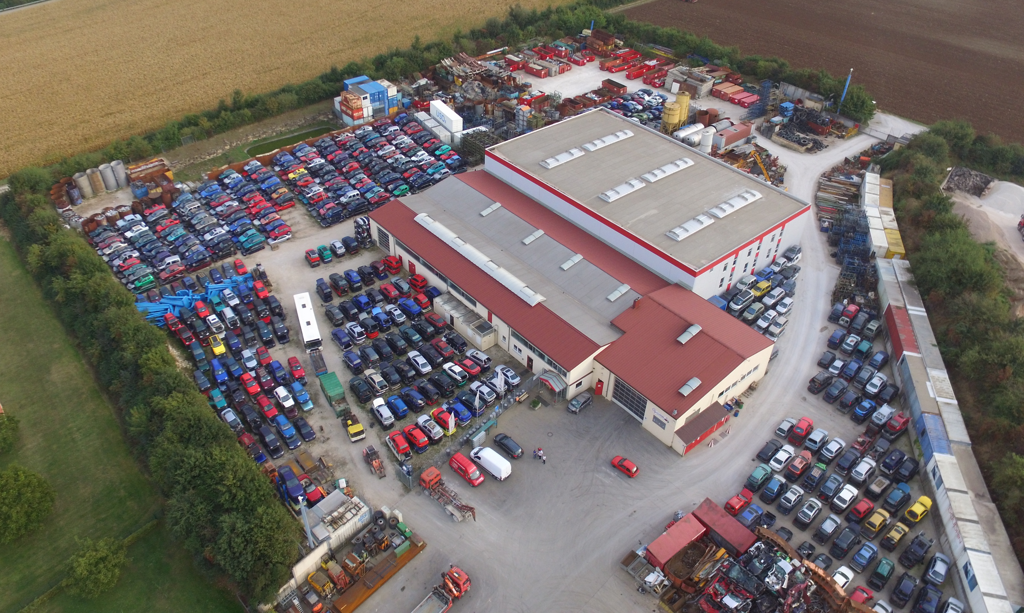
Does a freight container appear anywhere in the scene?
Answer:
Yes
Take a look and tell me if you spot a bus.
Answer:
Yes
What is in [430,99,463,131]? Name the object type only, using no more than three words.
shipping container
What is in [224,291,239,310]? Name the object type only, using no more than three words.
car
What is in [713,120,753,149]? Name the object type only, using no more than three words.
shipping container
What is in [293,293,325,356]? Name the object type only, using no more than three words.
bus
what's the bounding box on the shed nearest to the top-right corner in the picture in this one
[885,134,914,153]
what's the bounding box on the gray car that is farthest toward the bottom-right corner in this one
[937,592,966,613]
